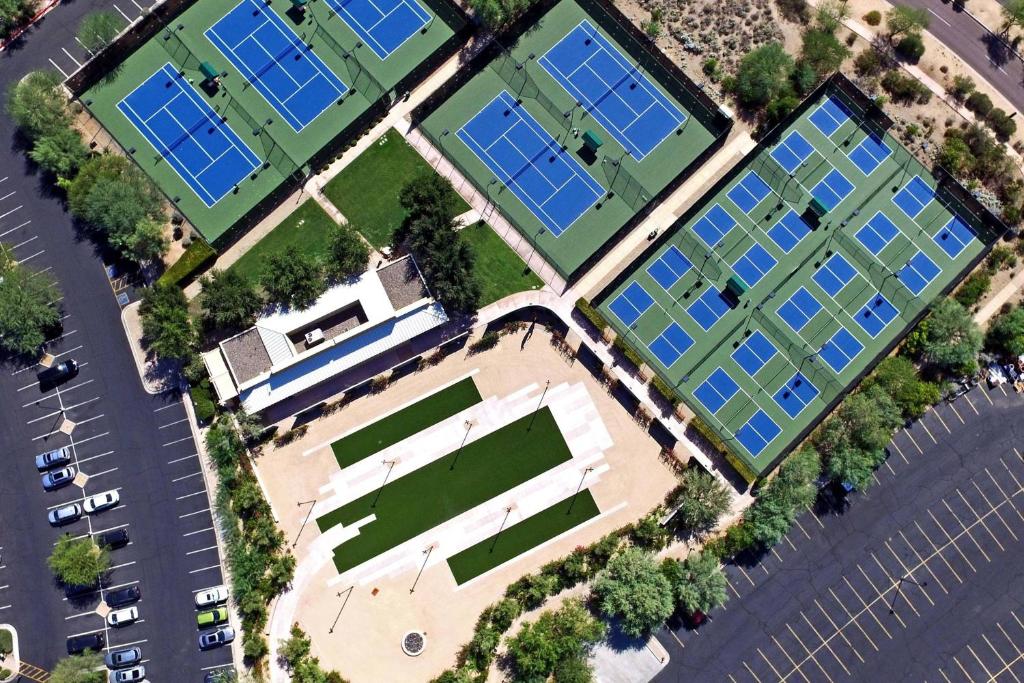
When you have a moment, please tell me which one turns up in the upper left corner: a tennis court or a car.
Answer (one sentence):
The feature located in the upper left corner is a tennis court.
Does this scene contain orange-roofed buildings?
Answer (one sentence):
No, the scene contains no orange-roofed building.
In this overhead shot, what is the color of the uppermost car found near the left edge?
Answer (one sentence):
From above, the uppermost car found near the left edge appears black.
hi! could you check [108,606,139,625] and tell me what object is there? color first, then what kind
white car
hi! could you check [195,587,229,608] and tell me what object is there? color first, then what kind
white car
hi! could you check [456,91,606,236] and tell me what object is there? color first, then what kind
blue tennis court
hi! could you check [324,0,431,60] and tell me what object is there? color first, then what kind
blue tennis court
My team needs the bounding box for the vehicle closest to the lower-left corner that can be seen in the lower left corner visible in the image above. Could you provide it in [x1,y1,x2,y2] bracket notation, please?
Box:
[70,632,104,653]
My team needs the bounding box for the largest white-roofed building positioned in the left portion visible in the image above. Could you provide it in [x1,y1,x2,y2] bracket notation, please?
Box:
[219,254,449,415]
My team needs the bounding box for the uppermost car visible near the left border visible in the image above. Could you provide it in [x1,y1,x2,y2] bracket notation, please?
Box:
[37,365,76,389]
